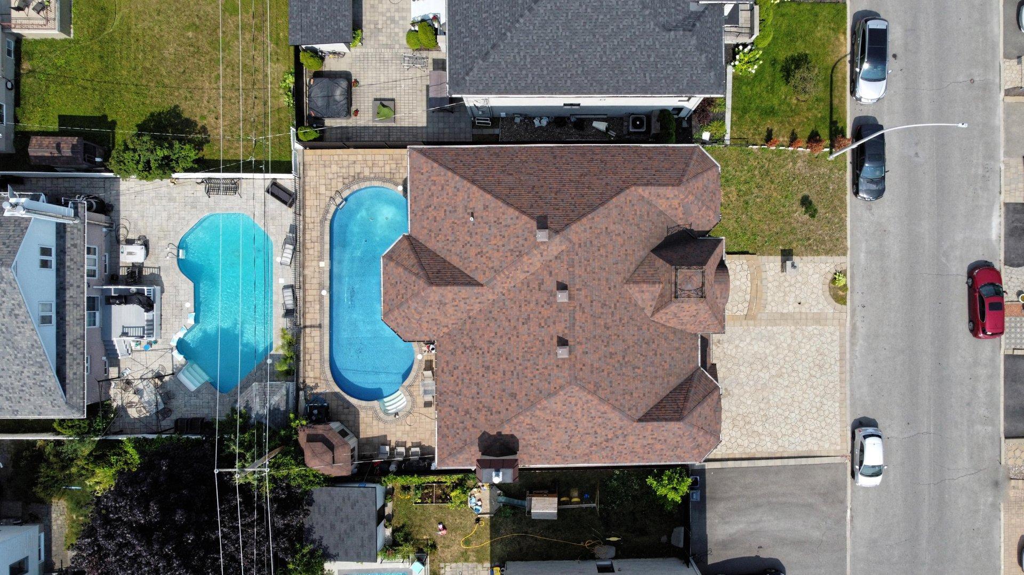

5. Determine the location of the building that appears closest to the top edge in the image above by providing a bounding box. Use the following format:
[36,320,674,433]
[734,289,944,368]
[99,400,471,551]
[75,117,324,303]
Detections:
[288,0,353,51]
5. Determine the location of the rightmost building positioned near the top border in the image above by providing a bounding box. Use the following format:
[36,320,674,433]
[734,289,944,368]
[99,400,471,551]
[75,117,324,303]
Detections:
[445,0,759,126]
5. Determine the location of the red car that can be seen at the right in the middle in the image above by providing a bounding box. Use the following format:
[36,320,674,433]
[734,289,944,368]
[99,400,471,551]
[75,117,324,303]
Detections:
[963,262,1008,337]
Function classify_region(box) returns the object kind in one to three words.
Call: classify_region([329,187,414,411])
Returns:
swimming pool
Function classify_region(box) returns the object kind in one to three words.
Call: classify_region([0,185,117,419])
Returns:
house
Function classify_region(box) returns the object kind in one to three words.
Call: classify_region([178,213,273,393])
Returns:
swimming pool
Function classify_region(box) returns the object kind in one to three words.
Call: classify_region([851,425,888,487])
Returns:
car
